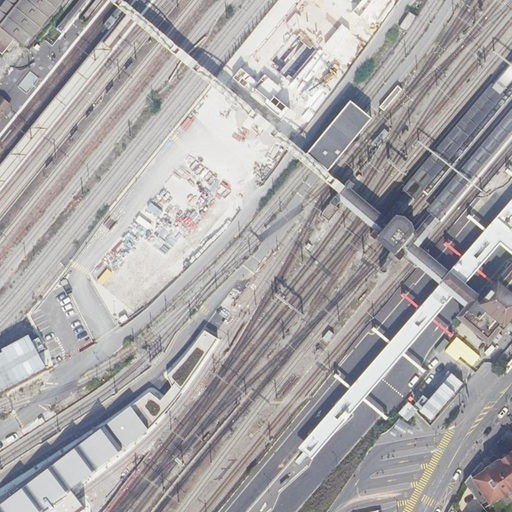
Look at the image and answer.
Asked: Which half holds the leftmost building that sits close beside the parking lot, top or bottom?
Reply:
bottom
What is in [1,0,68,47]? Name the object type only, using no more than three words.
building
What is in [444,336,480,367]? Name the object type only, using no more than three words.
building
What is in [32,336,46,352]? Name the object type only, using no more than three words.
vehicle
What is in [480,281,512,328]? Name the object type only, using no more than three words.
house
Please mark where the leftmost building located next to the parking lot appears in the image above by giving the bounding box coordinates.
[0,335,47,393]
